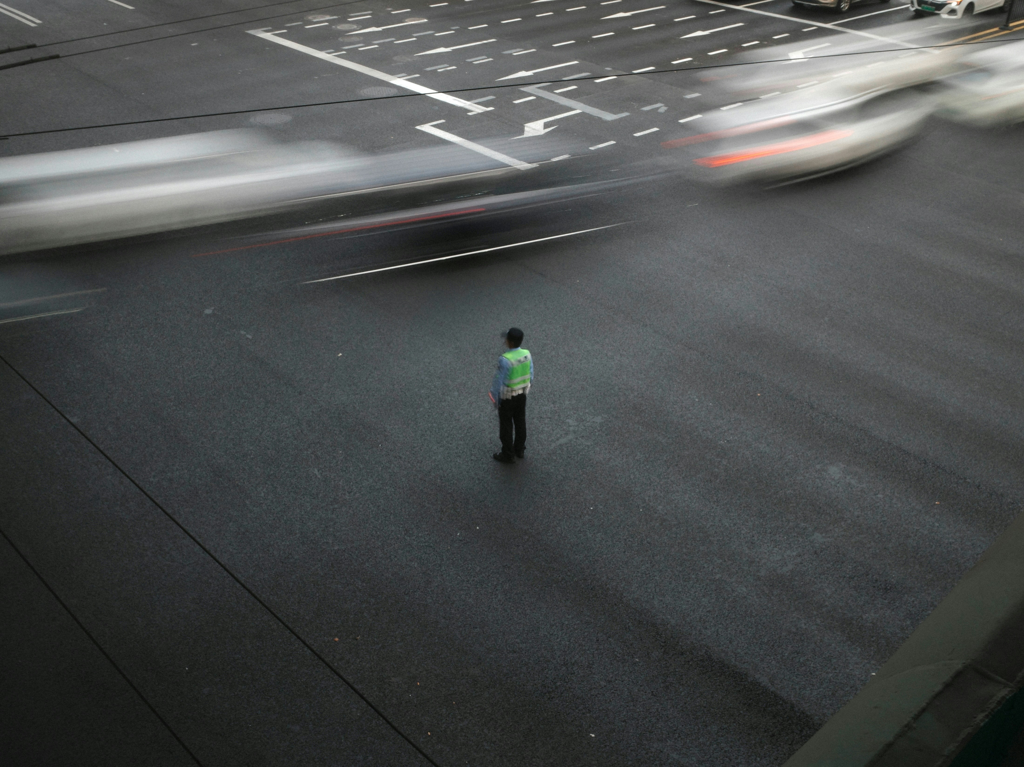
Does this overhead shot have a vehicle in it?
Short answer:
Yes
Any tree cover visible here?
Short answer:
No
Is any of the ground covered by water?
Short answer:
No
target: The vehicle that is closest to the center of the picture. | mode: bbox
[320,152,614,276]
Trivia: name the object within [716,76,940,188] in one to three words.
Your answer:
car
